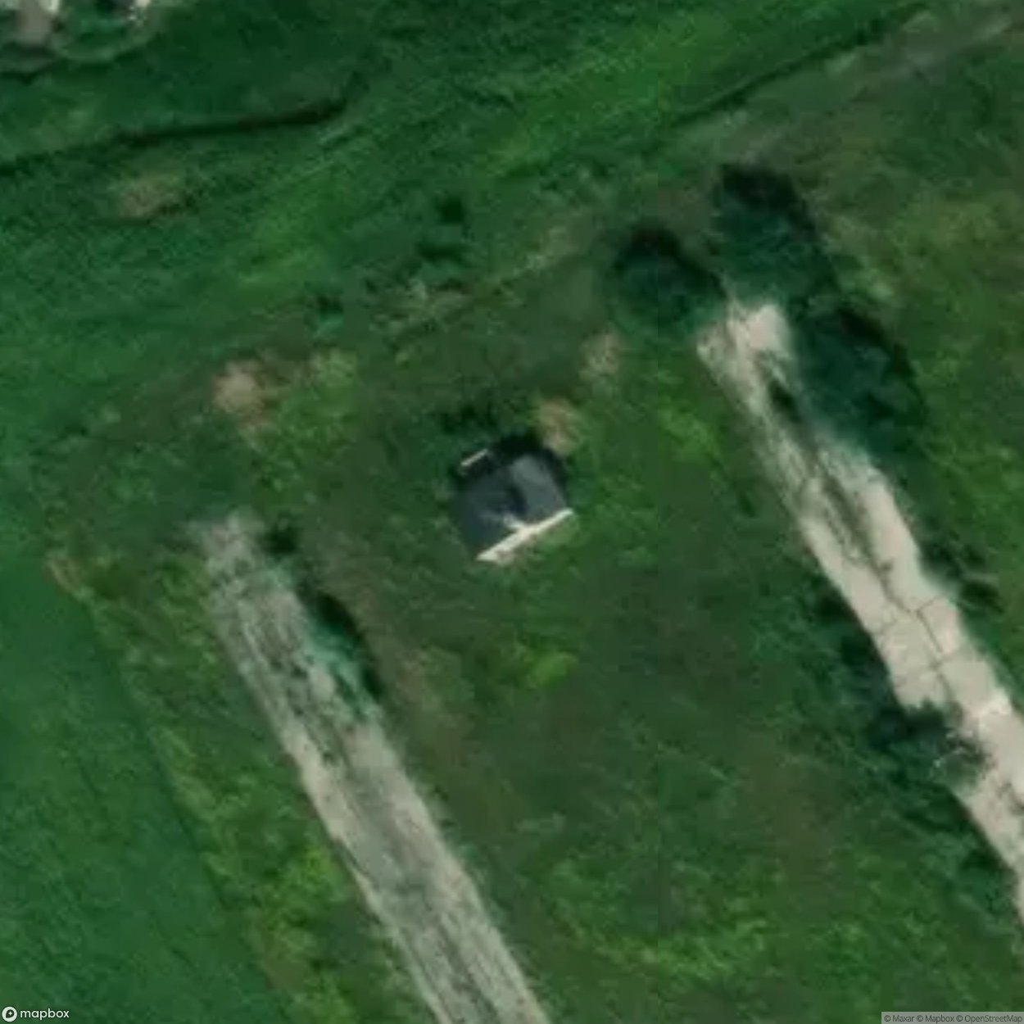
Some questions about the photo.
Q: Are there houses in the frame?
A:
Yes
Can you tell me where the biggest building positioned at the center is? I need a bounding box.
[445,450,569,560]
